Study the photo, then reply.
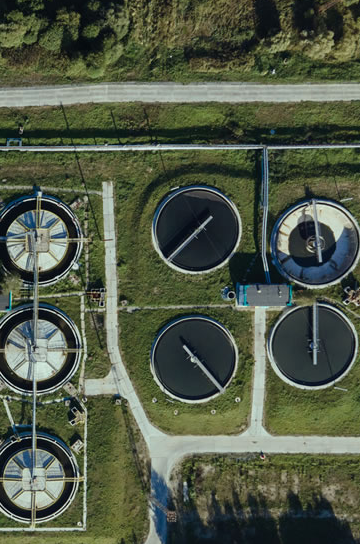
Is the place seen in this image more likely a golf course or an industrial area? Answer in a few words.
industrial area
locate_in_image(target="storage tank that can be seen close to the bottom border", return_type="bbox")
[0,432,84,529]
